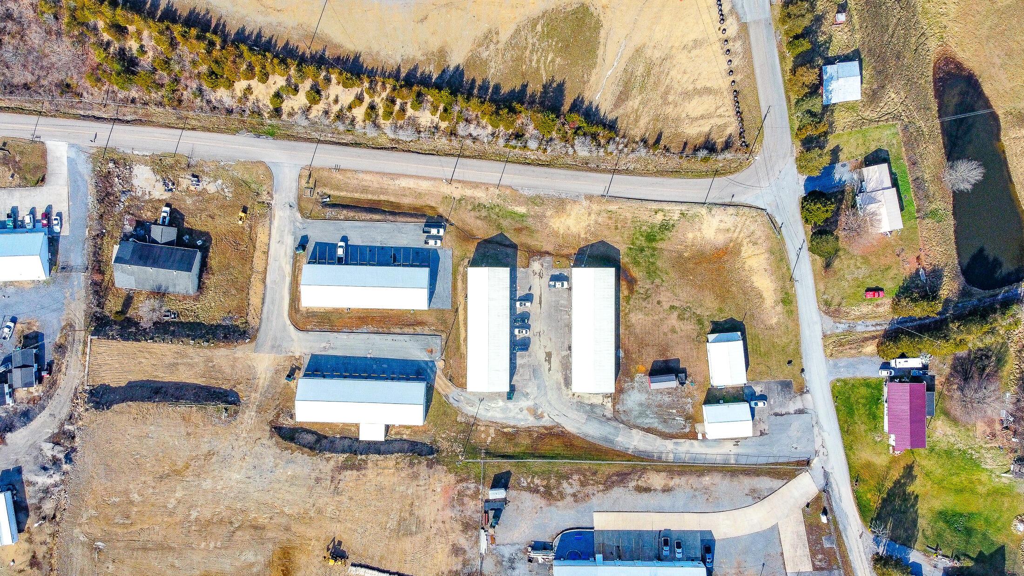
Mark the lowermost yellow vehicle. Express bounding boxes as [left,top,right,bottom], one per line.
[321,554,351,567]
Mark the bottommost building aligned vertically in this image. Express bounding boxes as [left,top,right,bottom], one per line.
[0,487,28,546]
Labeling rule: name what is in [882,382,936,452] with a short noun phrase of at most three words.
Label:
house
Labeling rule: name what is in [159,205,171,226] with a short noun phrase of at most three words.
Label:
vehicle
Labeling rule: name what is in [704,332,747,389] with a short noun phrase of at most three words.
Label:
building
